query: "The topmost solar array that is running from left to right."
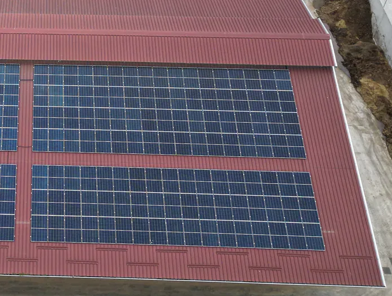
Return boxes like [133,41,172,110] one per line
[32,65,305,157]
